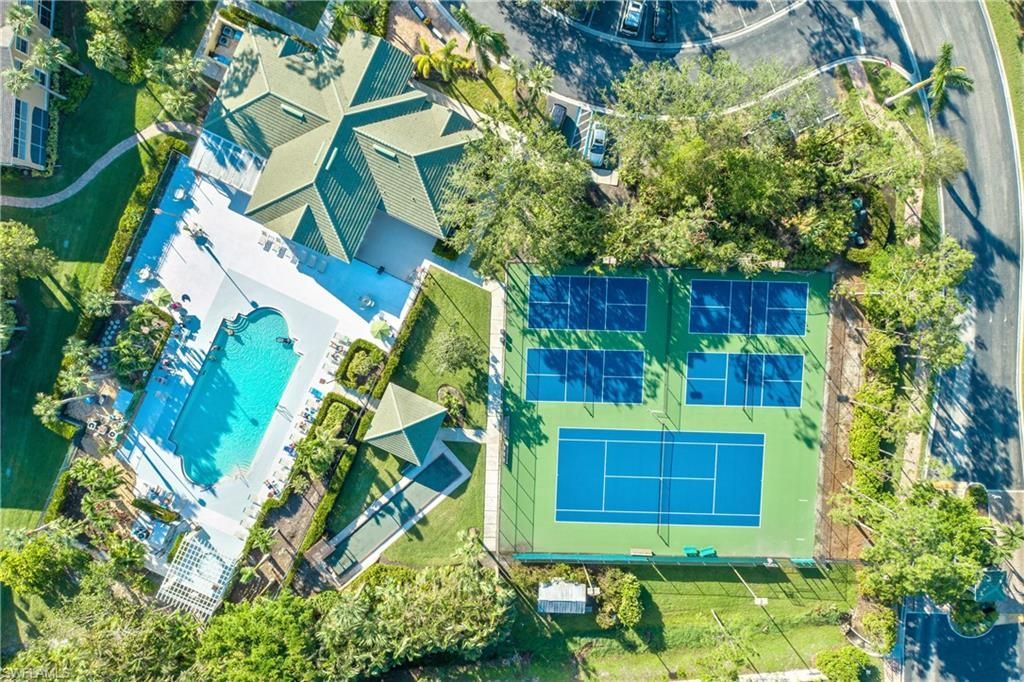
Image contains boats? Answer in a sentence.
No, there is no boat in the image.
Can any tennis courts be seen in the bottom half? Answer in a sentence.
Yes, I can see a tennis court in the bottom half.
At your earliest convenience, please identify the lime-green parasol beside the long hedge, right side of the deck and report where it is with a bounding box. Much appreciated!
[369,318,393,341]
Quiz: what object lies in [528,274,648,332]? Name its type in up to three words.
sports court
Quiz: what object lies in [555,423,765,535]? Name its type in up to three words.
tennis court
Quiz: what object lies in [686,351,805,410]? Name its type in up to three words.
sports court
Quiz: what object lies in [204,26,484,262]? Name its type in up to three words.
building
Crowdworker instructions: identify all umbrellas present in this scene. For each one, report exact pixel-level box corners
[151,285,175,308]
[369,318,393,341]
